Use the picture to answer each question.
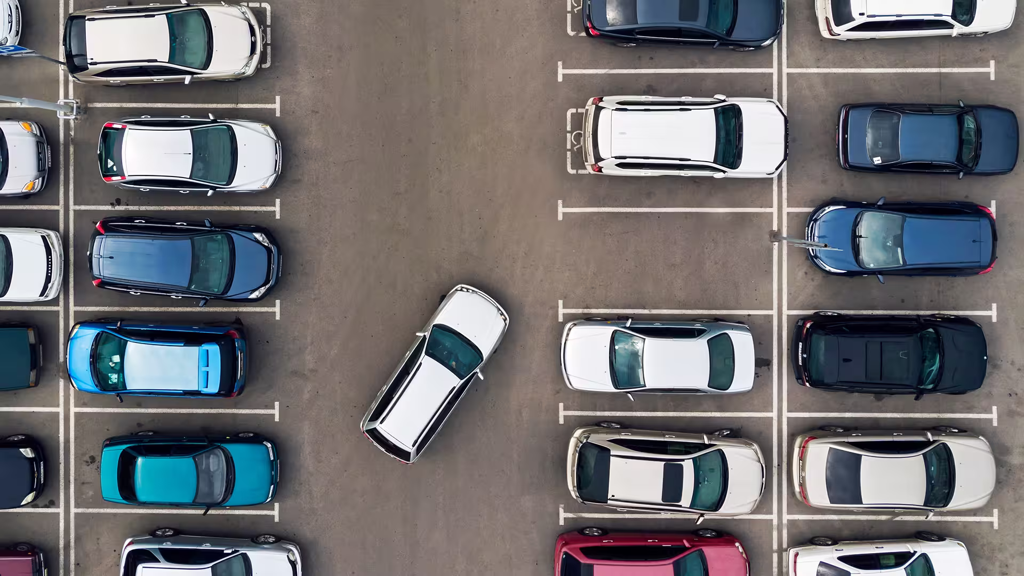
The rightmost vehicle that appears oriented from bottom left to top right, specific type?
car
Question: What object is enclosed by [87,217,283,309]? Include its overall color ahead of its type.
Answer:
blue car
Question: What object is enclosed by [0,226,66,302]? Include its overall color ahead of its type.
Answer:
white car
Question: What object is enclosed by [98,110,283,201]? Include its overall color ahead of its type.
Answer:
white car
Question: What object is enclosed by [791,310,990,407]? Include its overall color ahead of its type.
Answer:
black car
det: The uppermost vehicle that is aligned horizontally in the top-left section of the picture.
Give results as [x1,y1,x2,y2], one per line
[61,0,264,91]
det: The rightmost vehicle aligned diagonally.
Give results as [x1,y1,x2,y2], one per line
[361,286,508,464]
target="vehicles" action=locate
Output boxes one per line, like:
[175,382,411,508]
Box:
[805,195,999,286]
[100,427,279,518]
[582,0,784,52]
[568,421,765,527]
[87,217,283,309]
[0,122,54,194]
[0,429,47,509]
[0,0,26,44]
[61,0,264,91]
[0,320,43,392]
[835,94,1019,182]
[787,532,973,576]
[98,110,283,201]
[791,424,995,522]
[67,316,249,408]
[555,524,750,576]
[361,286,508,464]
[583,86,789,184]
[120,526,302,576]
[561,314,754,405]
[814,0,1016,42]
[0,226,66,302]
[0,545,48,576]
[791,310,990,407]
